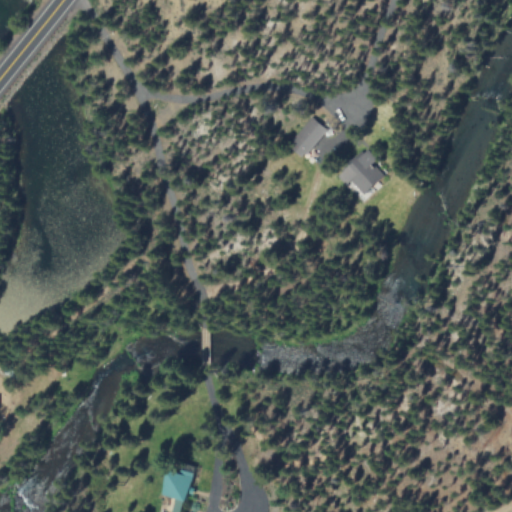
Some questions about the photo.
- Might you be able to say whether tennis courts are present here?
No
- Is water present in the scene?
Yes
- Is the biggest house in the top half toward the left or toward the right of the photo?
right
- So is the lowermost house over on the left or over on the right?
left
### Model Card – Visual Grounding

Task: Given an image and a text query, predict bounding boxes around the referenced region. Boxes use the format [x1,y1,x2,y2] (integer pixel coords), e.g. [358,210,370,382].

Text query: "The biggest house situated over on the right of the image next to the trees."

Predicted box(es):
[339,150,388,202]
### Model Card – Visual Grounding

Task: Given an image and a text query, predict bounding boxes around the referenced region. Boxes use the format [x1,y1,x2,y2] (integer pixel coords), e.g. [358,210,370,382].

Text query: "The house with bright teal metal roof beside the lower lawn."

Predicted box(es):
[161,464,196,512]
